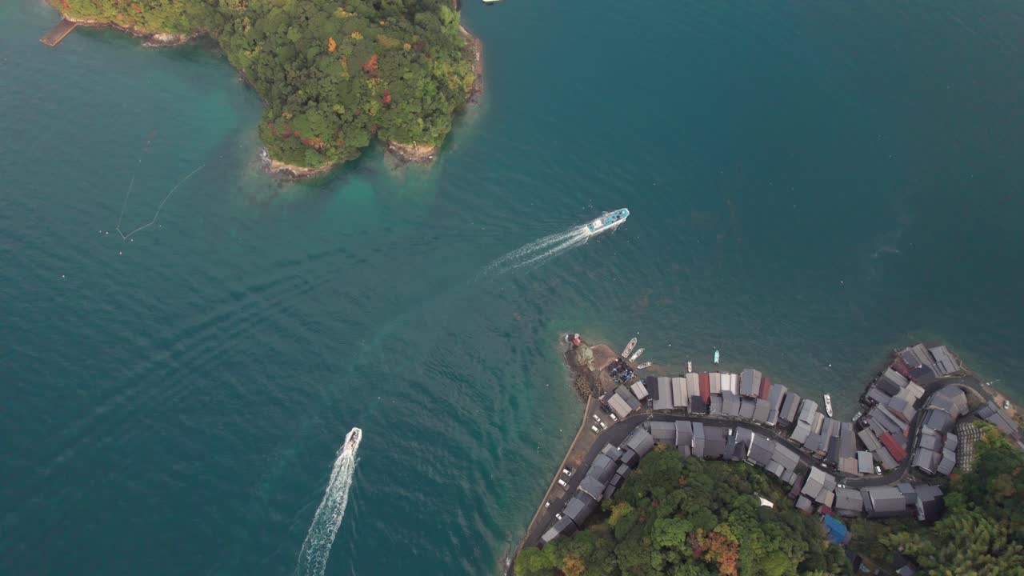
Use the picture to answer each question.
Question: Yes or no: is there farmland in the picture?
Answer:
No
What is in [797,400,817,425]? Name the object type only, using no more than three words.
building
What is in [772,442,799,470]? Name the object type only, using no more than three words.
house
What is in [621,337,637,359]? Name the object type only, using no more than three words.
boat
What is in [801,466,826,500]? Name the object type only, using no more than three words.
house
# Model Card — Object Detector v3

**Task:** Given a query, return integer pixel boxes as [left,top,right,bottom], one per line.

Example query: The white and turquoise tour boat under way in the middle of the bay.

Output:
[585,207,630,234]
